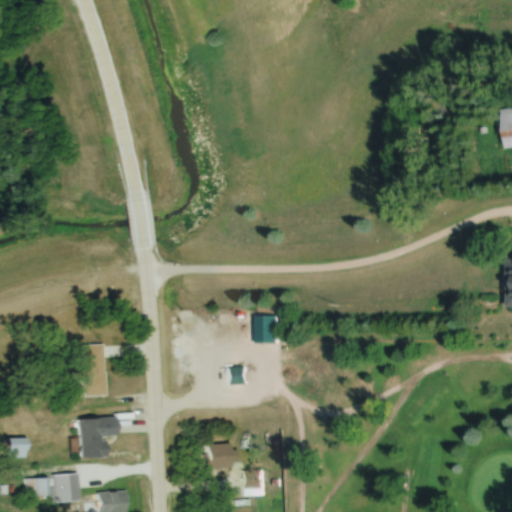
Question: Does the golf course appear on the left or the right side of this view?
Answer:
right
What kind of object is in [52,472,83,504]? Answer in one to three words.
house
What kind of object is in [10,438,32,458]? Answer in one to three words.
building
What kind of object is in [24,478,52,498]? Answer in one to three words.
shed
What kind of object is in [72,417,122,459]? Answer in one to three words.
house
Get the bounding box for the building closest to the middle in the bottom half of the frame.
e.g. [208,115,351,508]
[251,314,277,342]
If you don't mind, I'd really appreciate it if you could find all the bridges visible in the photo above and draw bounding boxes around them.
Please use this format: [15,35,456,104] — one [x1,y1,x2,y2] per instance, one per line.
[126,189,156,250]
